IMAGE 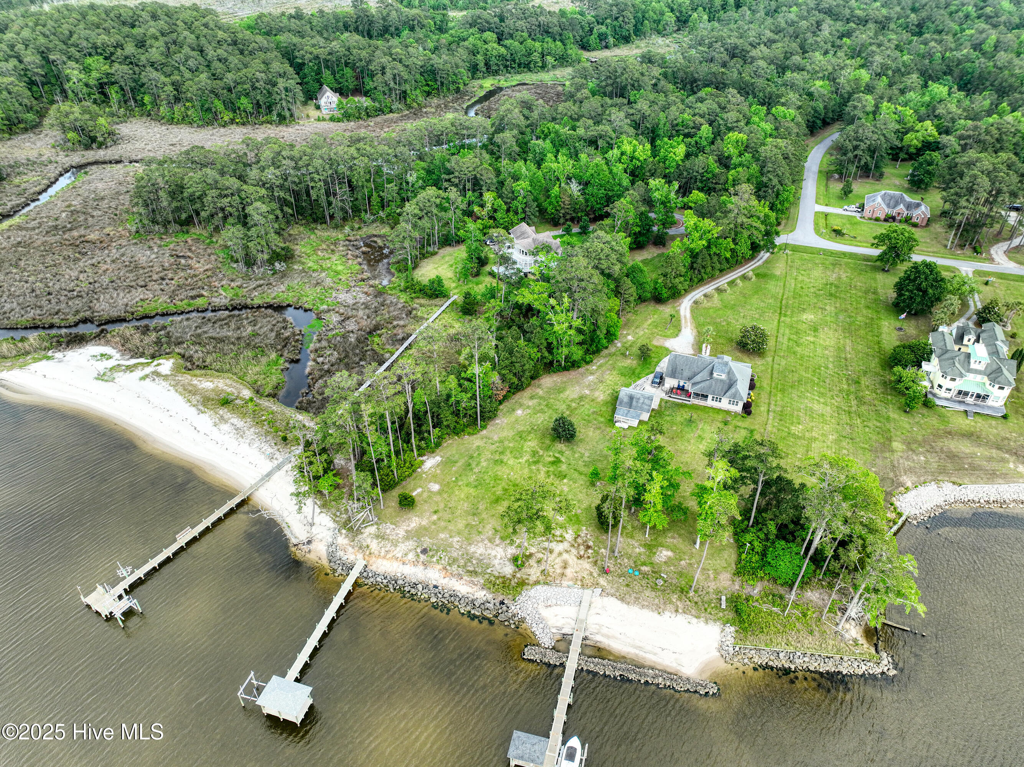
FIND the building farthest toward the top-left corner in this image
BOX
[316,86,343,115]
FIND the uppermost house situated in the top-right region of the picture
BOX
[864,192,930,225]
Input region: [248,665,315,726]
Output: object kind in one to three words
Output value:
gazebo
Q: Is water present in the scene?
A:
Yes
